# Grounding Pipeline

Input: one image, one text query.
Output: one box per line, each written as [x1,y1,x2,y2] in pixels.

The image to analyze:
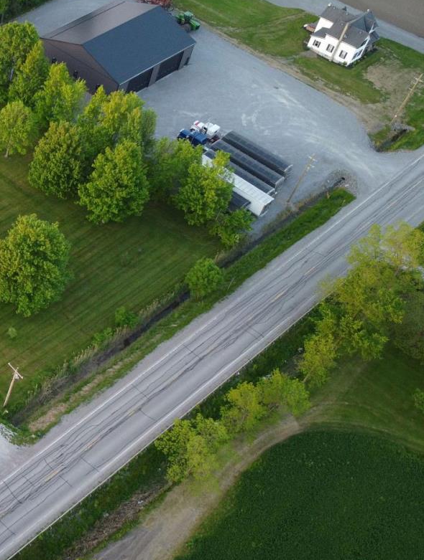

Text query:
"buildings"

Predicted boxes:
[293,1,393,66]
[39,1,199,104]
